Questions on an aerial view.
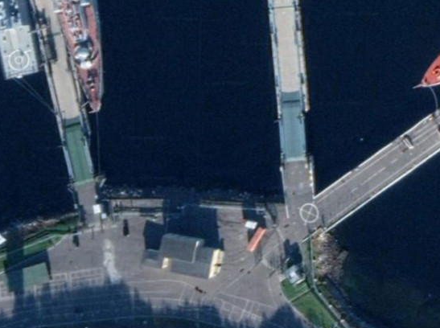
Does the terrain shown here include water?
Yes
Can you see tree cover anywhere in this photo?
No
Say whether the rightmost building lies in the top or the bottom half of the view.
bottom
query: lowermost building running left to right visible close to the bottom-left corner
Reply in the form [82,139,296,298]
[3,263,54,291]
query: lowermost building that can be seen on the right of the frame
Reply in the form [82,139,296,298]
[285,265,309,285]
